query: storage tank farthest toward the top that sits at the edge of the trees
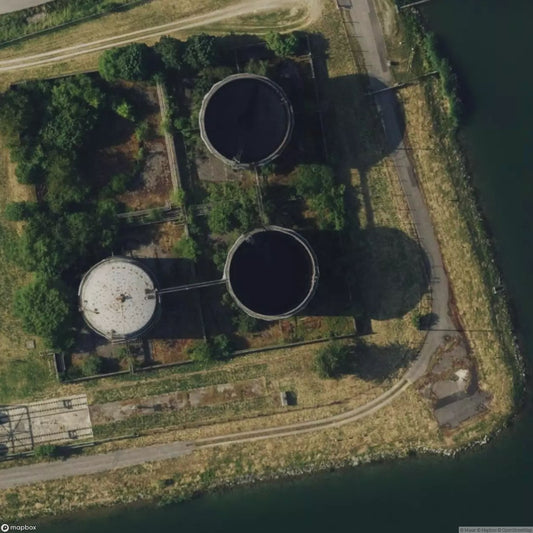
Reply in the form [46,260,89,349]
[198,72,294,168]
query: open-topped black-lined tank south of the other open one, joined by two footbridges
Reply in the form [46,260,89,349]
[224,225,319,321]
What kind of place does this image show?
industrial area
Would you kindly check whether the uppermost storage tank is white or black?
black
